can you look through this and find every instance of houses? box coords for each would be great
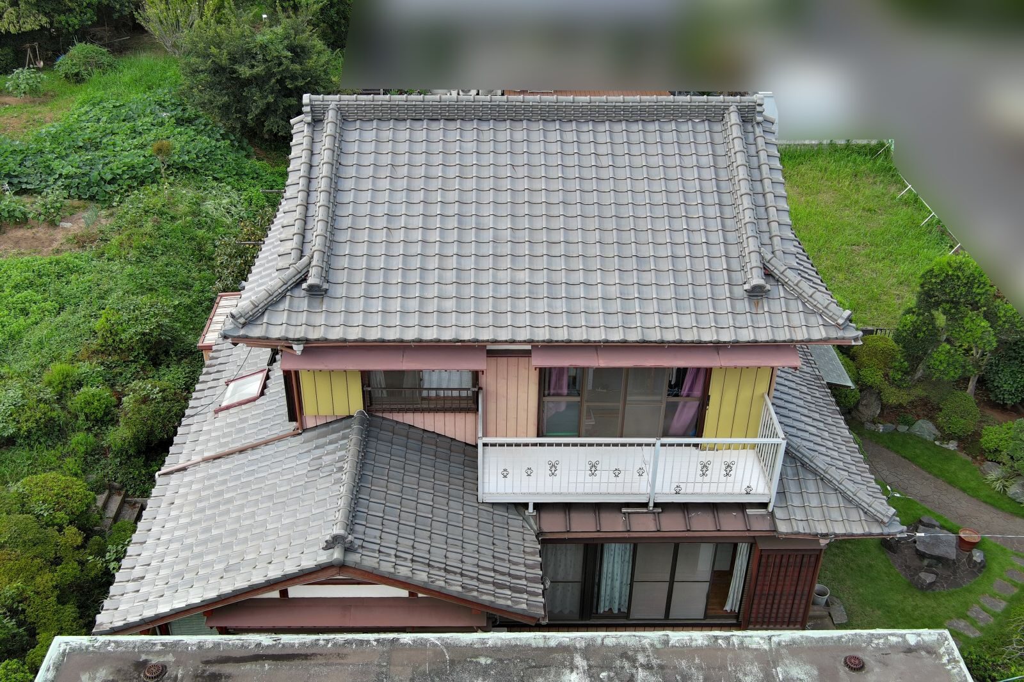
[329,0,709,92]
[93,95,911,631]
